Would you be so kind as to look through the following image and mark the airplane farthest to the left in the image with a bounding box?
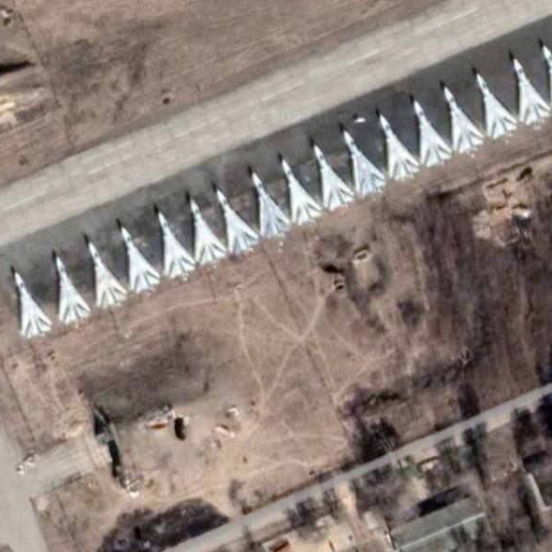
[14,270,50,337]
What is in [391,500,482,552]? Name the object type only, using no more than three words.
building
